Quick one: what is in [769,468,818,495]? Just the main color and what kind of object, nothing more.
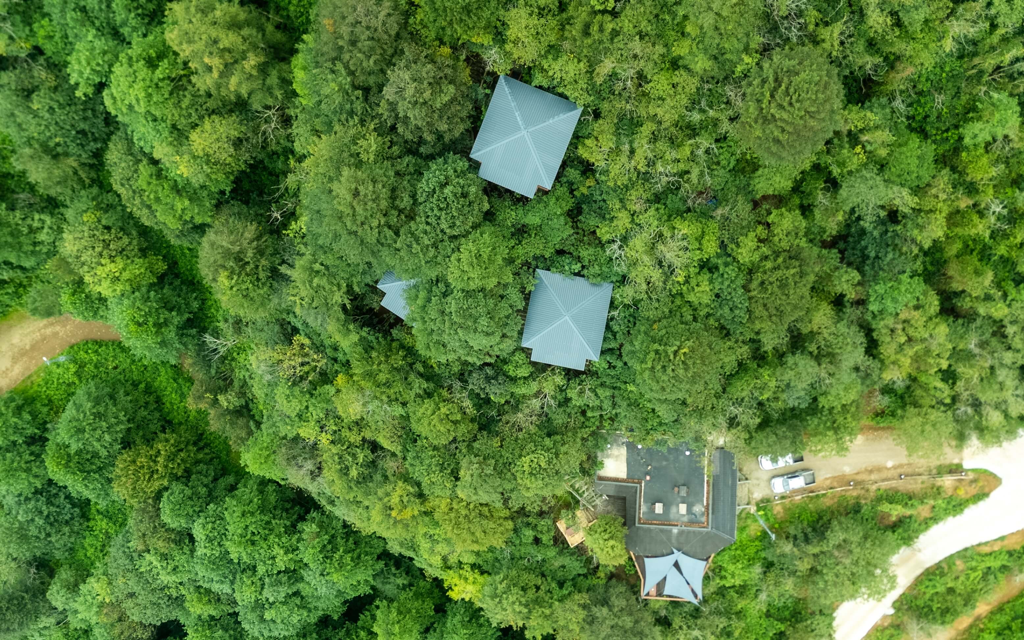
white truck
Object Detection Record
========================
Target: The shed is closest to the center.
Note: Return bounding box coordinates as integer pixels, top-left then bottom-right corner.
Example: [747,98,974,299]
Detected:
[521,269,614,371]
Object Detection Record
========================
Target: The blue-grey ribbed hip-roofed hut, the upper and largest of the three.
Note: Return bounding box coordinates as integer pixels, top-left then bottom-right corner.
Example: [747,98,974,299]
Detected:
[469,76,584,205]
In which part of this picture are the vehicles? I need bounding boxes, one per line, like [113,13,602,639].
[756,454,805,472]
[769,468,818,495]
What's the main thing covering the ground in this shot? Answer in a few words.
trees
